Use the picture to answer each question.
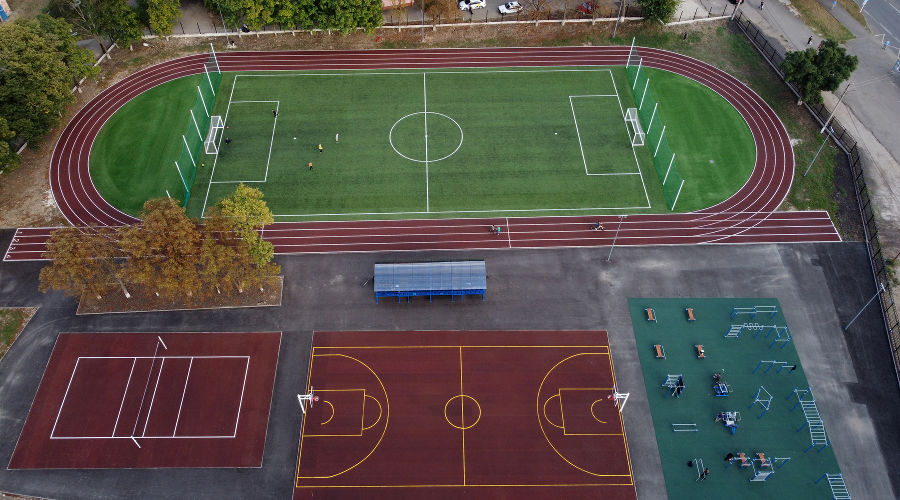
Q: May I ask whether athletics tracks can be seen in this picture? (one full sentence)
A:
Yes, I can see an athletics track in this picture.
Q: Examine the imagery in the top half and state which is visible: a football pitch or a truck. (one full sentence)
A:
What appears in the top half is a football pitch.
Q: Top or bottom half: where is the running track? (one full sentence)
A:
The running track sits in the top half of the picture.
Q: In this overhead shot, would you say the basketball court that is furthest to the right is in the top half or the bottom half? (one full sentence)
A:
The bottom half of the photo is where the basketball court that is furthest to the right is.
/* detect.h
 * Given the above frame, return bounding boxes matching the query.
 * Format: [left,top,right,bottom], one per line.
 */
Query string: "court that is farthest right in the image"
[292,330,638,500]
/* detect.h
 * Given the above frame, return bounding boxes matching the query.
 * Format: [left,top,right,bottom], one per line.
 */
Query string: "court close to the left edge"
[5,330,283,470]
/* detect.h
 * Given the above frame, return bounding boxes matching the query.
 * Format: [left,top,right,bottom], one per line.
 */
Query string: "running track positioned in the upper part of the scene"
[3,46,841,261]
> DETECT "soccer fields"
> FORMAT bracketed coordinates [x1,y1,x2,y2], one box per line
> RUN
[184,66,671,224]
